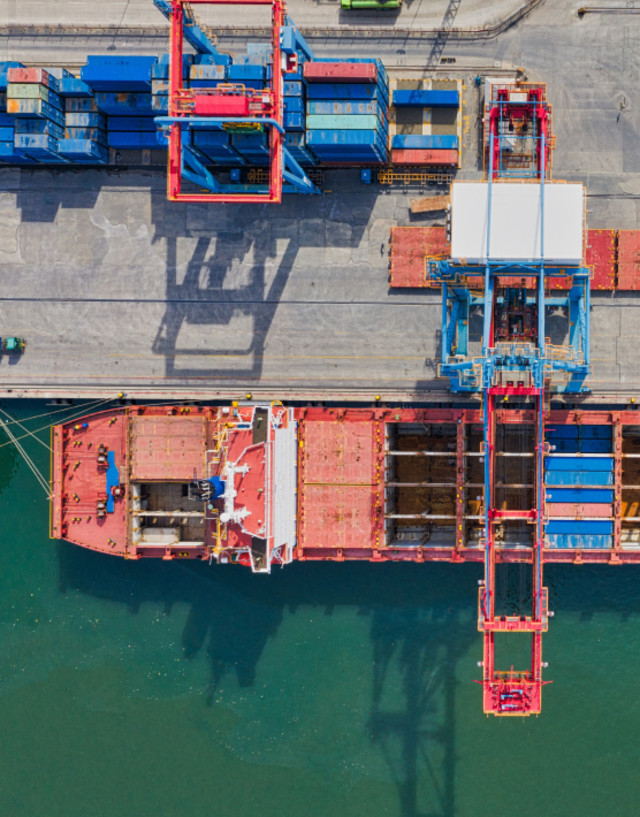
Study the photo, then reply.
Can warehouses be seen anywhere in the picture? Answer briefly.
No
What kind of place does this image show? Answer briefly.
port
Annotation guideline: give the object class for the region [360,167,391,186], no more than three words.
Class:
vehicle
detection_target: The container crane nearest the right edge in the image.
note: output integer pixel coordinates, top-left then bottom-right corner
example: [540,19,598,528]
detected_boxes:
[429,81,599,720]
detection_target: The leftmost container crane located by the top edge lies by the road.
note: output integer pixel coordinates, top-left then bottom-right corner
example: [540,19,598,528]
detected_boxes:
[147,0,329,204]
